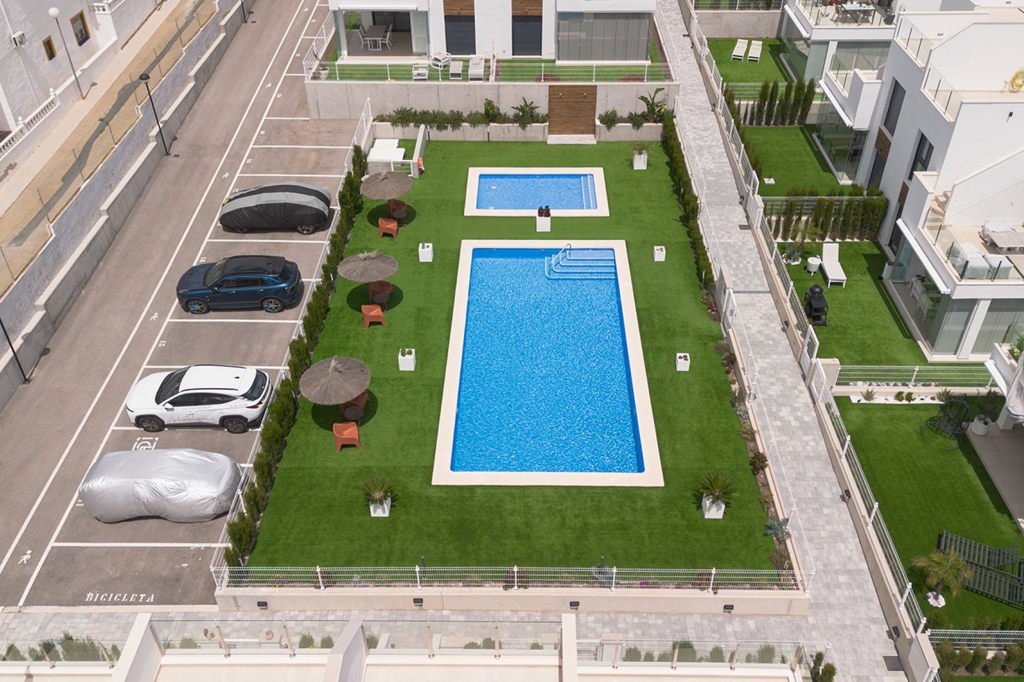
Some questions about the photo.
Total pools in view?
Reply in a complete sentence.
My tally gives 2 pools in this view.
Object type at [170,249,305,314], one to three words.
car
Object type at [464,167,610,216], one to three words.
swimming pool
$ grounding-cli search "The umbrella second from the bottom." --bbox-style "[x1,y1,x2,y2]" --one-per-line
[332,250,397,303]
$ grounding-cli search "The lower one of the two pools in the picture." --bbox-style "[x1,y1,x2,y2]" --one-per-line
[432,239,664,486]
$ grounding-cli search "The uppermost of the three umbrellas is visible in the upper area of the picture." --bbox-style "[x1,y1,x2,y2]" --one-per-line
[362,168,413,219]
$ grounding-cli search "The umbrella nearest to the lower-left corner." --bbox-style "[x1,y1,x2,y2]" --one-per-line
[296,354,373,422]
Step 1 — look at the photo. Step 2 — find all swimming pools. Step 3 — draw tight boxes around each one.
[464,167,610,216]
[432,239,664,486]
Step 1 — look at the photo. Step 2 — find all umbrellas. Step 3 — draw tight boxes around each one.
[362,168,413,219]
[296,354,373,422]
[332,250,397,303]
